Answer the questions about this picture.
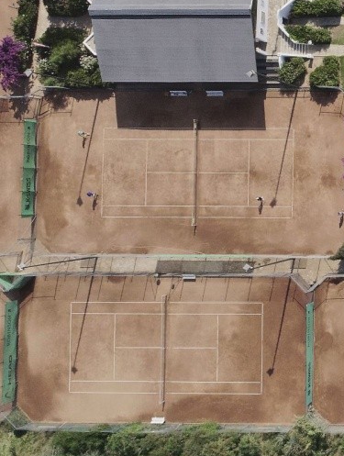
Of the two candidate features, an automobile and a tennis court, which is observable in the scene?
tennis court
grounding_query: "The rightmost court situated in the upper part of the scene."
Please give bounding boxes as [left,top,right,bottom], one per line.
[37,89,344,254]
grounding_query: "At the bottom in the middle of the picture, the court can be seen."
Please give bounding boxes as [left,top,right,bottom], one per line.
[18,276,309,424]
